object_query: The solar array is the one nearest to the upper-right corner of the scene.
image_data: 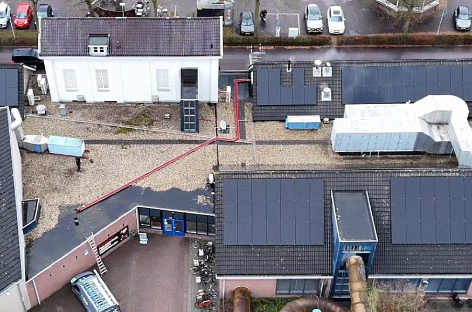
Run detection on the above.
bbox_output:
[343,65,472,104]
